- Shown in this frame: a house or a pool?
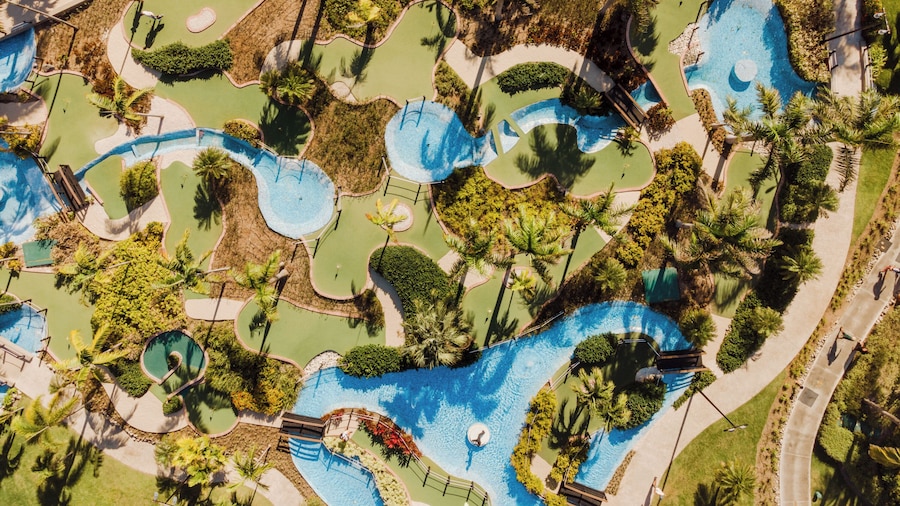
pool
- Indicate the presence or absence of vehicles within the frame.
No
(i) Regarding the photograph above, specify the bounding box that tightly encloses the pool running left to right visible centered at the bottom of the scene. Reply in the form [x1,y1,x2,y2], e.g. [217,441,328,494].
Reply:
[289,301,698,506]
